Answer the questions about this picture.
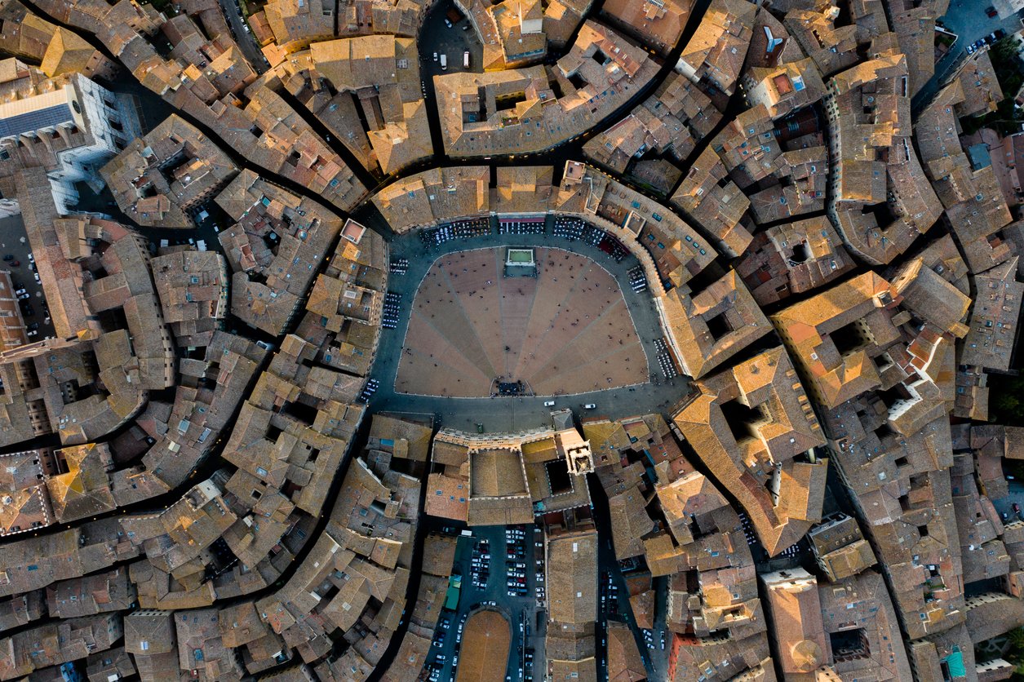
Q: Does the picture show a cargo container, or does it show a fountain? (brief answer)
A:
fountain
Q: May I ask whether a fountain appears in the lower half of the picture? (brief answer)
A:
No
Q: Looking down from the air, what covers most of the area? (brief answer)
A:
buildings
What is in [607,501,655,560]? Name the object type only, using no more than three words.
house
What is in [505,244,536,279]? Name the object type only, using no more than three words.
fountain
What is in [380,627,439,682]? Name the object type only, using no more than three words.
house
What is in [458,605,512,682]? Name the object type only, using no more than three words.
building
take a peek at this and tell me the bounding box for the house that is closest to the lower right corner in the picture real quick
[975,653,1017,682]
